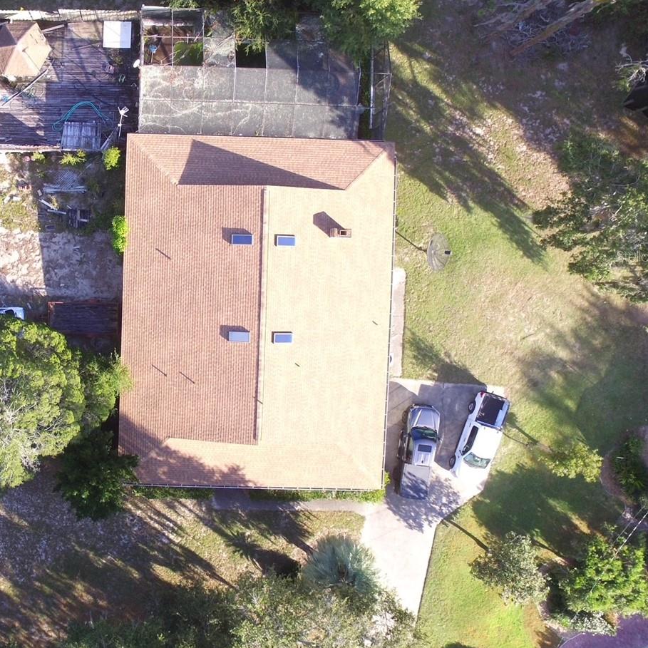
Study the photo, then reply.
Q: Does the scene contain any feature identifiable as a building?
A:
Yes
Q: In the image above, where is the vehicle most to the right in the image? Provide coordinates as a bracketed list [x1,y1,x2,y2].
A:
[449,391,512,490]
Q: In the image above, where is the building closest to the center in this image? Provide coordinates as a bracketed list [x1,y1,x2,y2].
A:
[119,134,397,494]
